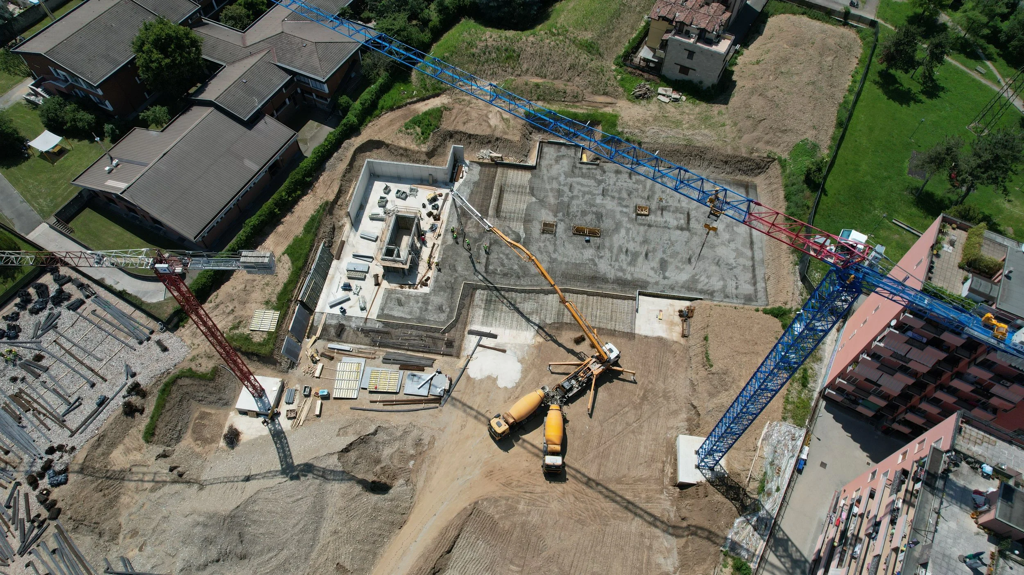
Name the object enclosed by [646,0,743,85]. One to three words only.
house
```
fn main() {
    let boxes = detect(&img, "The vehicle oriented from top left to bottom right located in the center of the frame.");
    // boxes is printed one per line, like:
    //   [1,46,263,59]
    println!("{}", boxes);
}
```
[449,190,636,415]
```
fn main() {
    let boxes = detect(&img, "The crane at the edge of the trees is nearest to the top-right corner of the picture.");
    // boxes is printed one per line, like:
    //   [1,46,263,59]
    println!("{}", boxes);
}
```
[270,0,1024,470]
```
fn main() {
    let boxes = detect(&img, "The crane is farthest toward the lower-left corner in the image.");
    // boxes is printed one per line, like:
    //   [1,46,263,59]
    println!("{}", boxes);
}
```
[0,242,288,402]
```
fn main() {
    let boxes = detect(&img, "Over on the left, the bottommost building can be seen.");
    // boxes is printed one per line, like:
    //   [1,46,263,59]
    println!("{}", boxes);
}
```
[71,105,298,246]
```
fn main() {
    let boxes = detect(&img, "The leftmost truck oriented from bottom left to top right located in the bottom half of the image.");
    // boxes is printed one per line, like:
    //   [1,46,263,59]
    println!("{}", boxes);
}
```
[482,380,555,444]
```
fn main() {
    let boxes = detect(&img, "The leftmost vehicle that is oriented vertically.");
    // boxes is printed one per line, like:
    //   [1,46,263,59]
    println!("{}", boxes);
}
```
[540,386,569,475]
